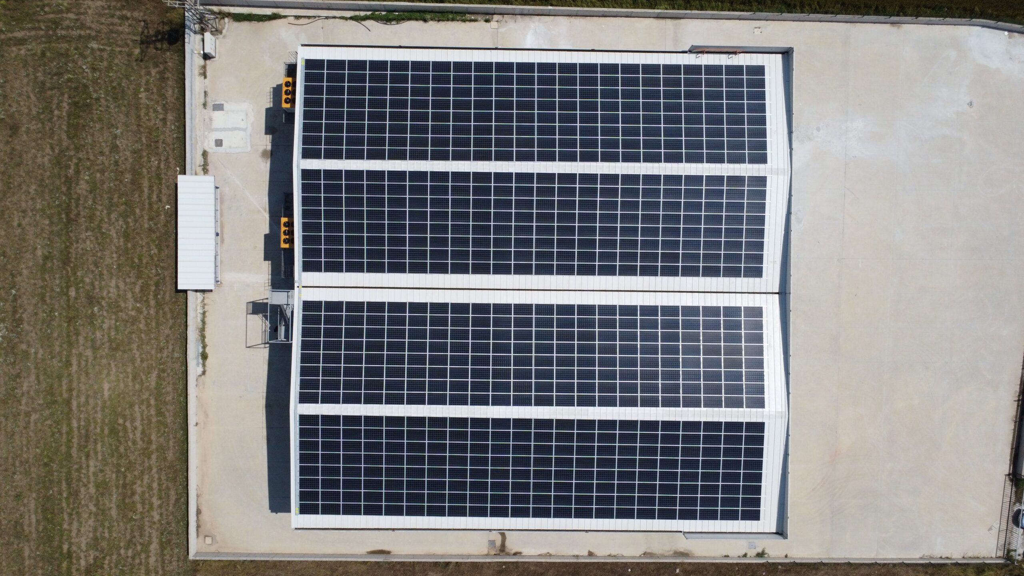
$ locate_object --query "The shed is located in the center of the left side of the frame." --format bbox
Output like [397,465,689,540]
[177,175,223,290]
